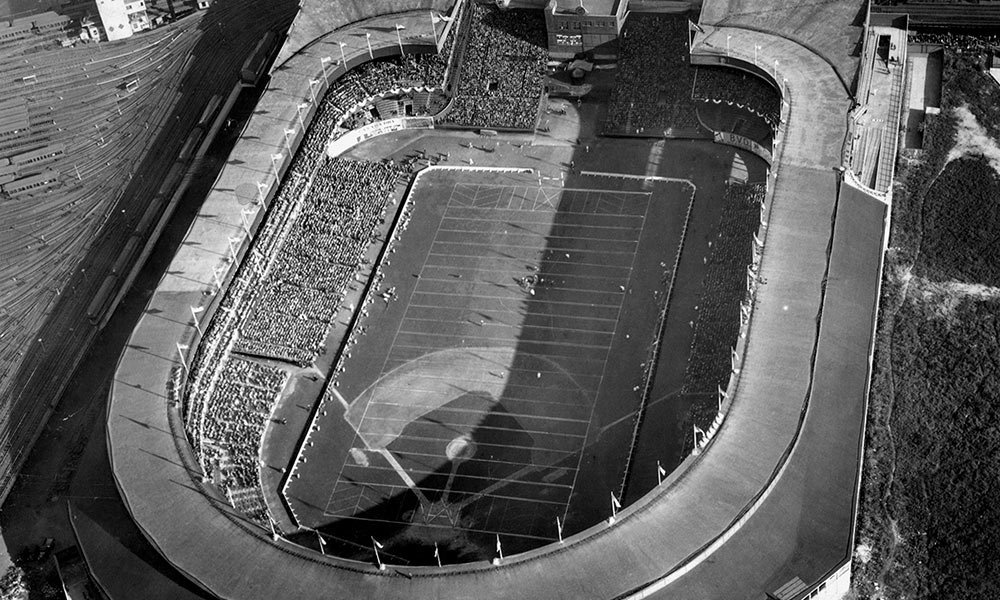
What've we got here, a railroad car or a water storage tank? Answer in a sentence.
It is a railroad car that can be seen here.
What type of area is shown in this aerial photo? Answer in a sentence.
What you see here is a sports ground.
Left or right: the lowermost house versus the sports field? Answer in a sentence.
The lowermost house can be seen on the left of the sports field.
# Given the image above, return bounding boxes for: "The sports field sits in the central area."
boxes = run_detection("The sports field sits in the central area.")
[260,41,766,565]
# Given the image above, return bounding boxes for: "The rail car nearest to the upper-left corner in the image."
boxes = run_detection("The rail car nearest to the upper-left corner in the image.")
[0,14,34,41]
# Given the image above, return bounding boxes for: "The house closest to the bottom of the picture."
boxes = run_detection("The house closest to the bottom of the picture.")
[54,544,95,600]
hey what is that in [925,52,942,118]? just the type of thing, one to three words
house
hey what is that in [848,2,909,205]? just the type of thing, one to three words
house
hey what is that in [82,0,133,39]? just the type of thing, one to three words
building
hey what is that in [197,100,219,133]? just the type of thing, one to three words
rail car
